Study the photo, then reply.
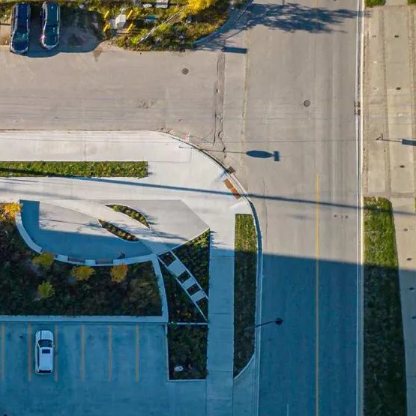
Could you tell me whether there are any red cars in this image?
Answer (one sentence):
No, the photo shows no red car.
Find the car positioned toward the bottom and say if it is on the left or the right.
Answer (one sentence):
The car positioned toward the bottom sits on the left side.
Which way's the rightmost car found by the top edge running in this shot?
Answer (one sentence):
The rightmost car found by the top edge runs up and down in the image.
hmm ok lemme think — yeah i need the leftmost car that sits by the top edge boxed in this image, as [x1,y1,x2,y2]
[8,2,32,55]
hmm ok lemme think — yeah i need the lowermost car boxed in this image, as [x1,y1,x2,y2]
[33,329,55,375]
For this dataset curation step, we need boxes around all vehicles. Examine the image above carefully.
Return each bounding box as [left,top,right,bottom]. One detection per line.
[39,1,62,50]
[33,329,55,375]
[8,2,32,55]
